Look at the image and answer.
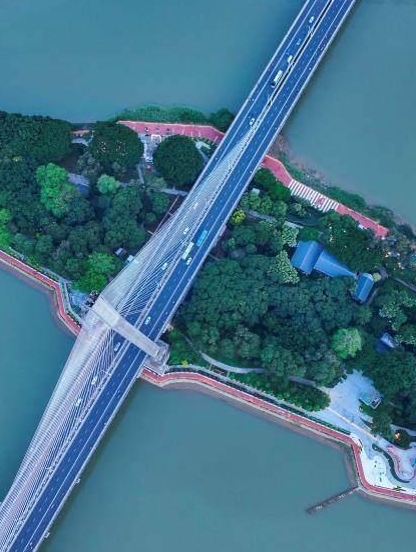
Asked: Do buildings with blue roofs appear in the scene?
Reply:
Yes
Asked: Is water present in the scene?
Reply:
Yes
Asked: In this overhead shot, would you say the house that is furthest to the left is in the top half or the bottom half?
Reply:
top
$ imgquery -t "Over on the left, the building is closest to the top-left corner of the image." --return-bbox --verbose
[66,173,91,194]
